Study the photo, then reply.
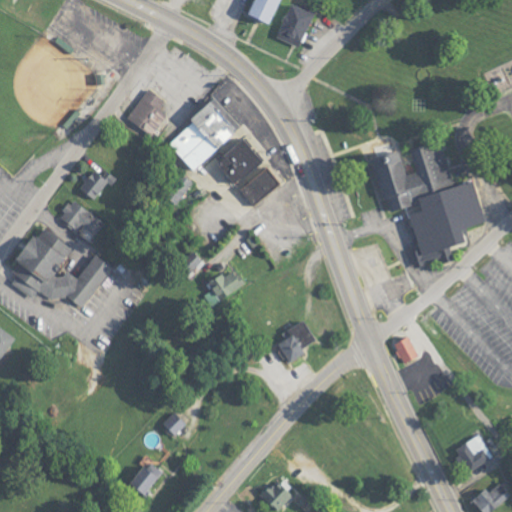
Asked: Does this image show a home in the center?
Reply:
Yes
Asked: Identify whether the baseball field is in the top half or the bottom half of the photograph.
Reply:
top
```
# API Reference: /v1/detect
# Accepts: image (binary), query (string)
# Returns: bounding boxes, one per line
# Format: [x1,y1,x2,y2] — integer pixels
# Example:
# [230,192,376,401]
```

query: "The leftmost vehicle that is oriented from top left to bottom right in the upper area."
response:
[86,158,104,174]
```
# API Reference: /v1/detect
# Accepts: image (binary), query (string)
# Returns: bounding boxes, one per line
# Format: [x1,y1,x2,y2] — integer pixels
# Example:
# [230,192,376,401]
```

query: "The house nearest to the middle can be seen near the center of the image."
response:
[214,270,245,297]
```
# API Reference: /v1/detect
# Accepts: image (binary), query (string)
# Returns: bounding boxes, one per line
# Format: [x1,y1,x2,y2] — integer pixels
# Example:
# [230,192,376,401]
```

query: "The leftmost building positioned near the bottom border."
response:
[134,464,163,496]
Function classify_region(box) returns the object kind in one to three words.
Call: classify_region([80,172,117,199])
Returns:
house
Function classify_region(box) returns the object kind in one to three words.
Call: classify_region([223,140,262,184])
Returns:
building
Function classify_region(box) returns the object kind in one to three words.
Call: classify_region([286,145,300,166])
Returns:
vehicle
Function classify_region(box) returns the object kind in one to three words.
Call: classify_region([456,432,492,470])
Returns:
house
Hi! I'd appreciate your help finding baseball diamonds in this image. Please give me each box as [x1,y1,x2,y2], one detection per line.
[0,10,96,177]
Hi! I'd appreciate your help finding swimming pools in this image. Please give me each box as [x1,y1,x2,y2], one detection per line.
[144,432,164,449]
